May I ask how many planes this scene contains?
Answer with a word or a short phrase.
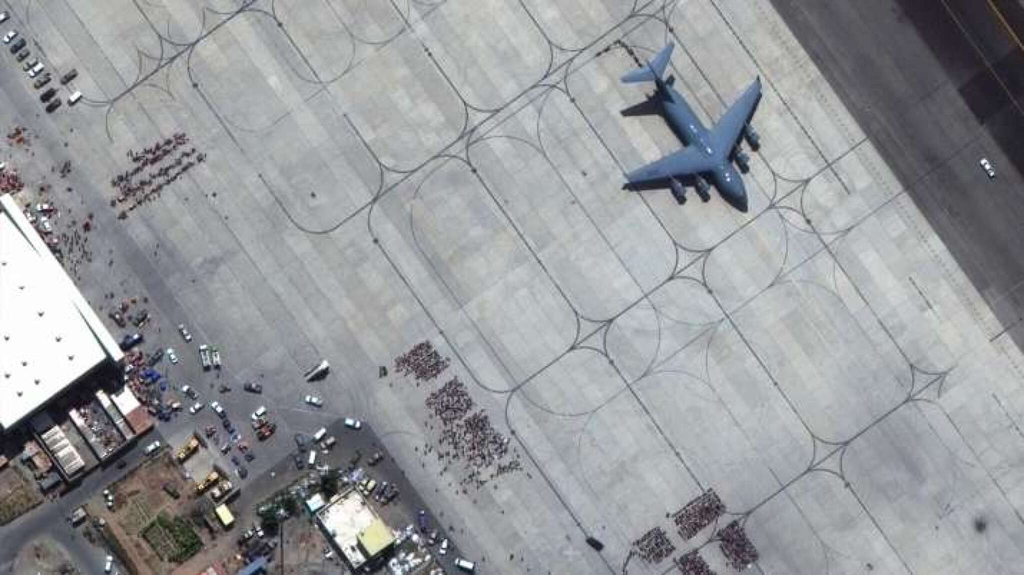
one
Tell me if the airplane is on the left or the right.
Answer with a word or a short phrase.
right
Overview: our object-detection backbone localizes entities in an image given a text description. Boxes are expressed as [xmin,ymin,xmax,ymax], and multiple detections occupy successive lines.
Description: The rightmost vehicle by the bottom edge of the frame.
[585,535,604,552]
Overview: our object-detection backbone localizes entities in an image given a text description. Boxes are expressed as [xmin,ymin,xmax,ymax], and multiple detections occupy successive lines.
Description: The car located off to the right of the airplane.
[980,160,994,177]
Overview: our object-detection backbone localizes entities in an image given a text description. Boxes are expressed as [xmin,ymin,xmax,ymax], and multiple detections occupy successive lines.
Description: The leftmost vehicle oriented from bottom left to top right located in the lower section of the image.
[69,508,88,524]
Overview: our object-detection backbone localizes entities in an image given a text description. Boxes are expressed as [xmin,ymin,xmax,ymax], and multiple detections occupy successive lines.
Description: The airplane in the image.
[618,37,757,208]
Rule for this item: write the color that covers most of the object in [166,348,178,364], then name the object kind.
white vehicle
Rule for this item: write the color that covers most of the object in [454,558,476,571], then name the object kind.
white vehicle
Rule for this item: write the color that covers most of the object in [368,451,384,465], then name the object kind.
gray car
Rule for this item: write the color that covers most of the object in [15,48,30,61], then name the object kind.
gray vehicle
